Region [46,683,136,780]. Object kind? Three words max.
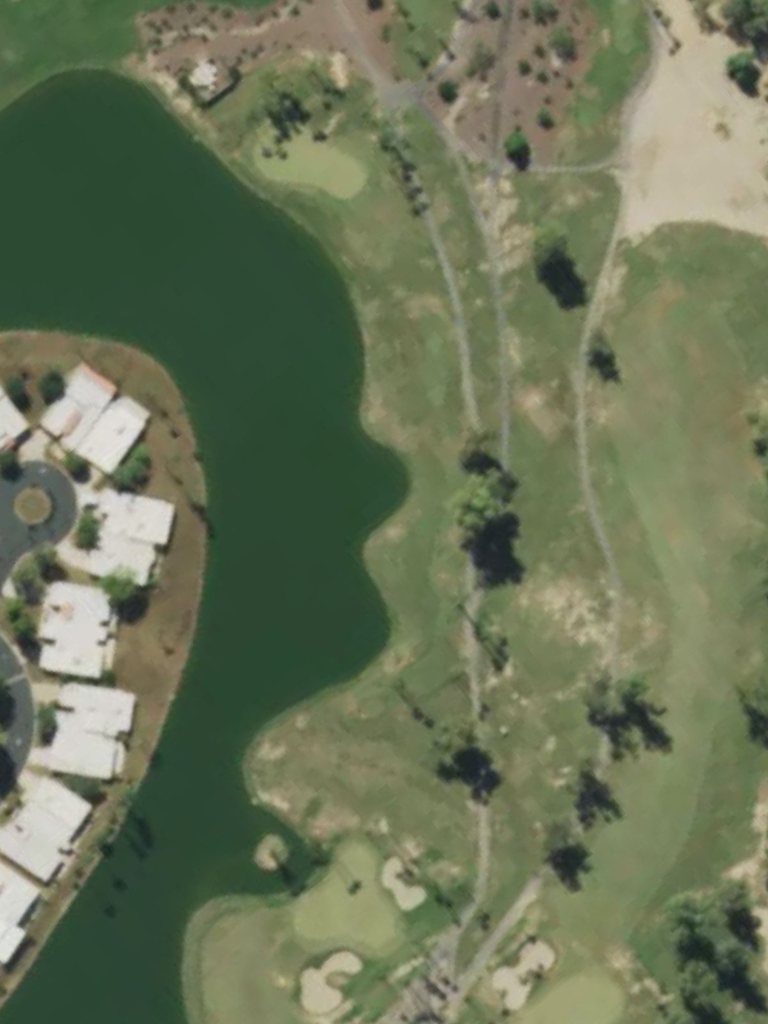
house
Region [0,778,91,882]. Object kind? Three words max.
house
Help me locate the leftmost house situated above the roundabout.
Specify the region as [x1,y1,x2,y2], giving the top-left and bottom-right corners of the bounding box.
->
[0,386,30,450]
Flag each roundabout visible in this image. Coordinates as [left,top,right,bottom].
[13,485,52,524]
